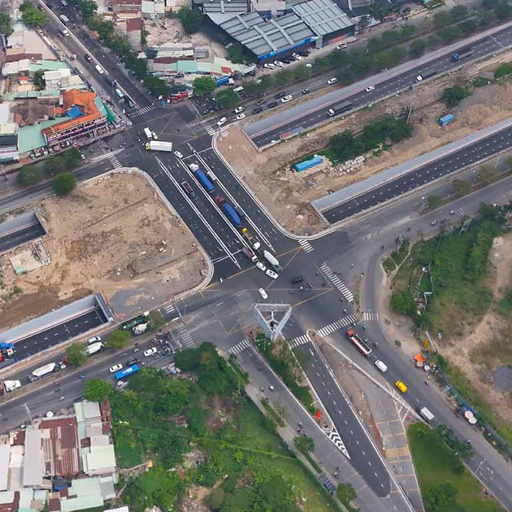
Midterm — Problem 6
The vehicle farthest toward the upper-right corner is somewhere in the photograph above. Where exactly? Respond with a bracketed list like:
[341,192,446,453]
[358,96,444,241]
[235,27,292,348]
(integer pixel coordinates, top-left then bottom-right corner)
[452,49,474,62]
